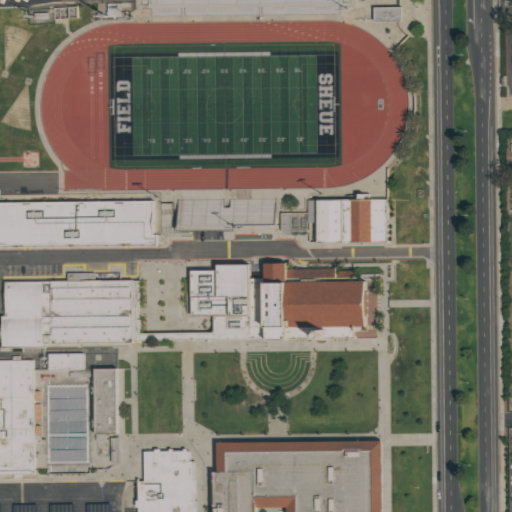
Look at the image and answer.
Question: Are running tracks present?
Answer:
Yes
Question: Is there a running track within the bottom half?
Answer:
No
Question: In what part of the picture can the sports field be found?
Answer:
top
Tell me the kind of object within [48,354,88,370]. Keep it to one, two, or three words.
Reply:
building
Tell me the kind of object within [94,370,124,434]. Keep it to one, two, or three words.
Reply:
building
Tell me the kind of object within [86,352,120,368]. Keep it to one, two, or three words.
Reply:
shed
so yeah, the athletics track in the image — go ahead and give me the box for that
[41,22,406,190]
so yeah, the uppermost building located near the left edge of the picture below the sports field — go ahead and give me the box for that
[0,196,162,246]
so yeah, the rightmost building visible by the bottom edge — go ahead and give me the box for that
[212,442,382,512]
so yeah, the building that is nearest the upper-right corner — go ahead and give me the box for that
[374,8,403,22]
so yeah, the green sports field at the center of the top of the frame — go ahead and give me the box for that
[109,42,340,168]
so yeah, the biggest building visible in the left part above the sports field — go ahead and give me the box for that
[106,3,134,18]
